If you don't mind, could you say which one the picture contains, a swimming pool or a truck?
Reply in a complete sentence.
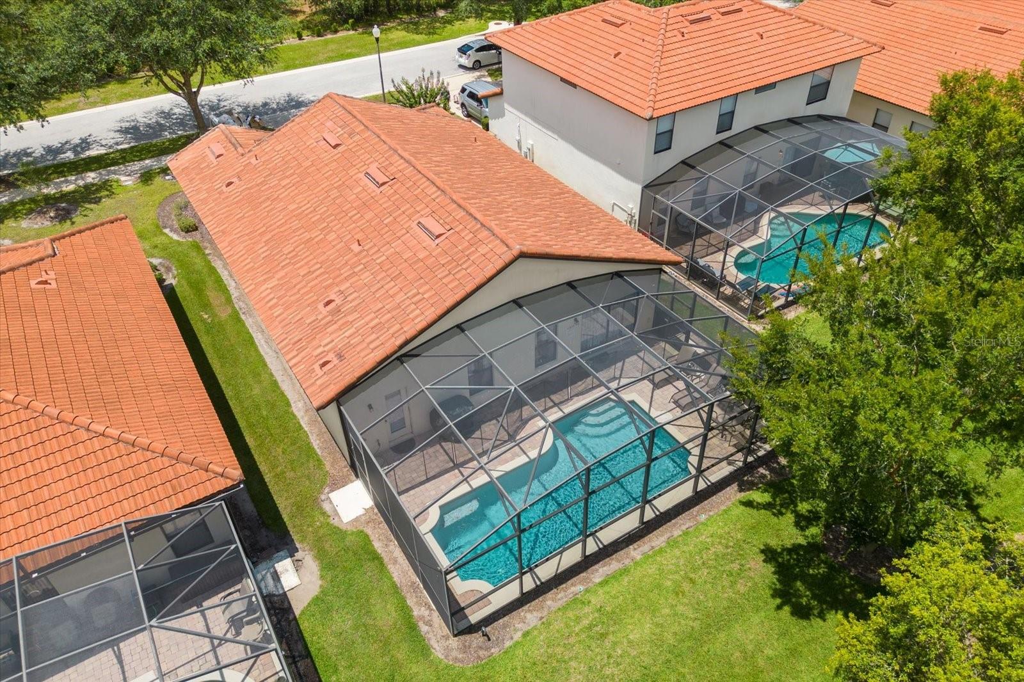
This aerial view contains a swimming pool.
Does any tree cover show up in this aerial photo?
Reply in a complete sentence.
Yes, some tree cover is visible.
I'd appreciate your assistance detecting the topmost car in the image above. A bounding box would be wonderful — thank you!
[454,35,501,69]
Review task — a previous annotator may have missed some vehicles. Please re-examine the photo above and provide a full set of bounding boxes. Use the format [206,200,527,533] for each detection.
[454,35,501,69]
[454,72,504,128]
